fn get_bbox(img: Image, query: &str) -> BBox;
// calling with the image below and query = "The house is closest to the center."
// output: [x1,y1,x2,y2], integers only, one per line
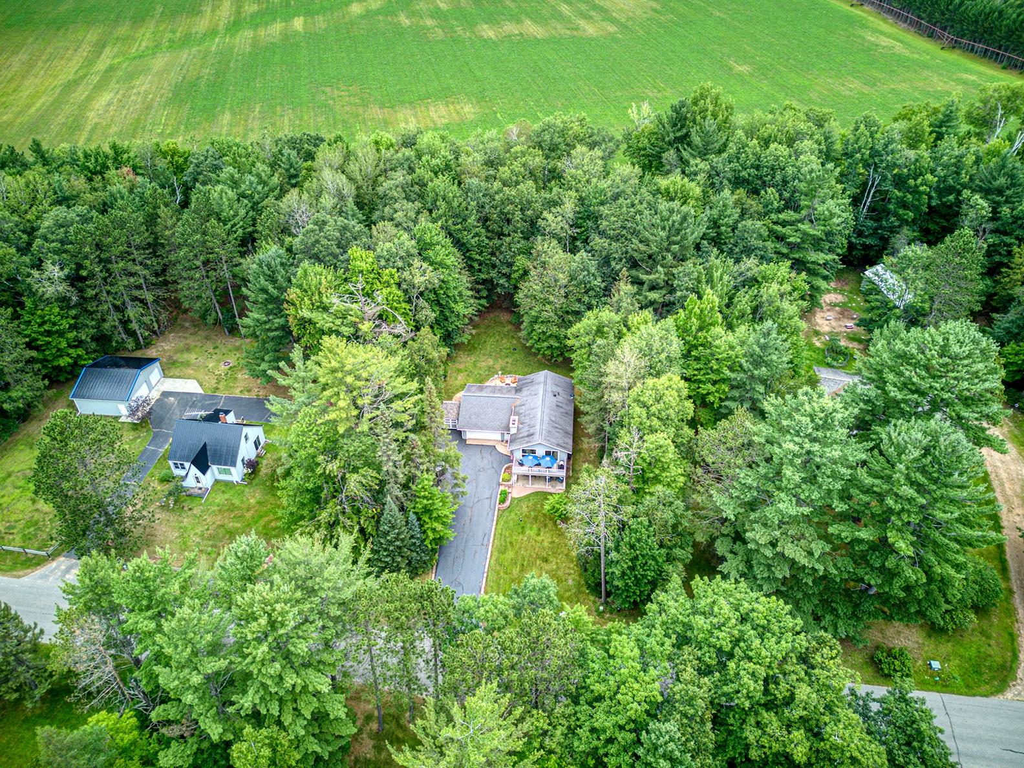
[433,371,576,489]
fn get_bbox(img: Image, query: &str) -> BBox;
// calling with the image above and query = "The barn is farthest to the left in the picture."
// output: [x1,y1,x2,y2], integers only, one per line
[69,356,159,416]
